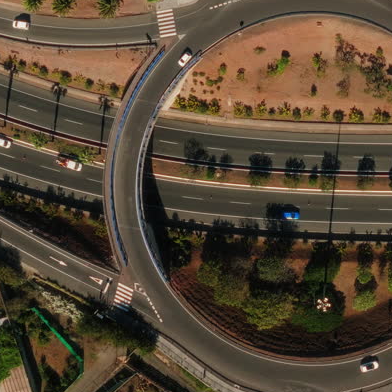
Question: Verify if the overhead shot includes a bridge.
Yes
